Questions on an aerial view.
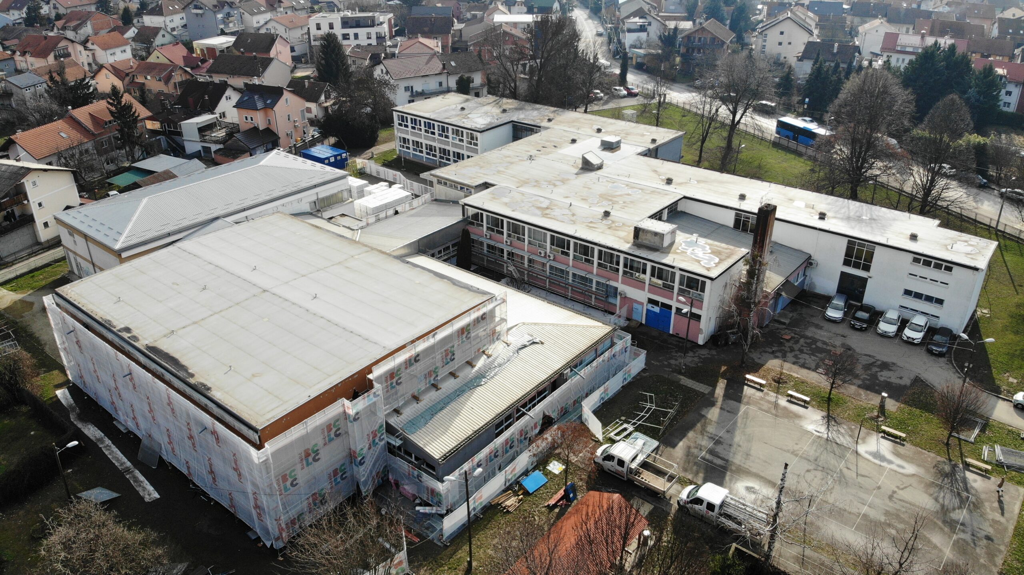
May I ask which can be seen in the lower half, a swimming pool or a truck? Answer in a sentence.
The feature located in the lower half is a truck.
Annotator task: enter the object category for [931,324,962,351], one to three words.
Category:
car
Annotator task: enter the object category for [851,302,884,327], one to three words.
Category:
car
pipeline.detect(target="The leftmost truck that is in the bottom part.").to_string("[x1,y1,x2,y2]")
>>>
[593,440,681,499]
